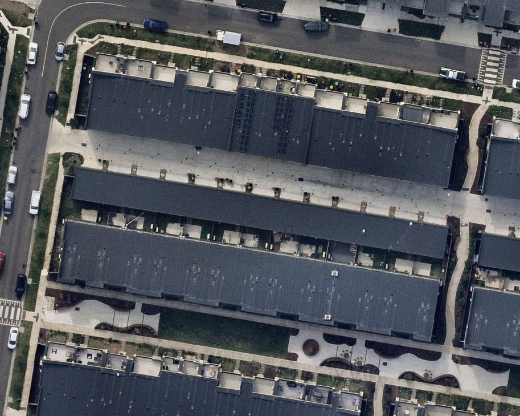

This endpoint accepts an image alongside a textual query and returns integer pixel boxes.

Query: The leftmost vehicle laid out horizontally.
[142,18,169,31]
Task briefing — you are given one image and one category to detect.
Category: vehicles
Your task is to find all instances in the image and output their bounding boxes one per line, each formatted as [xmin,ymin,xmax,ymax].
[511,79,520,90]
[14,274,26,295]
[439,68,467,81]
[6,326,18,350]
[2,191,14,216]
[142,18,169,31]
[215,31,241,46]
[54,42,65,62]
[6,166,17,186]
[45,90,57,114]
[29,190,40,215]
[303,20,329,33]
[17,94,31,120]
[27,42,38,65]
[255,13,279,25]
